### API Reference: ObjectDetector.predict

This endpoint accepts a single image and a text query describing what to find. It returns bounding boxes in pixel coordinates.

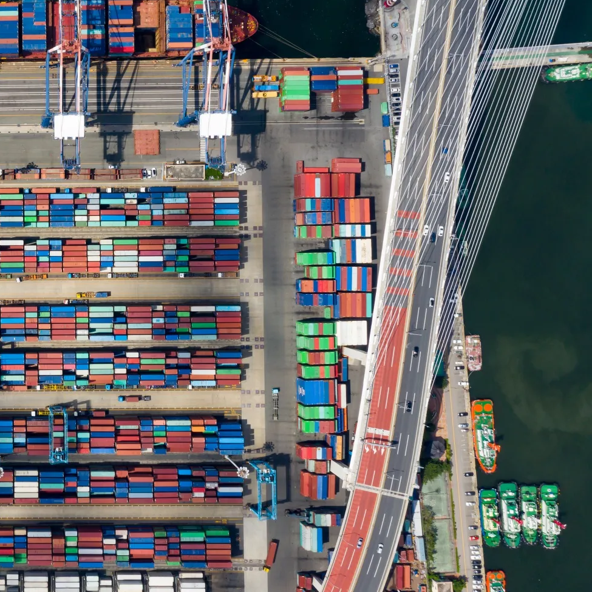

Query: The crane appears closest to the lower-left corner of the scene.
[40,397,70,465]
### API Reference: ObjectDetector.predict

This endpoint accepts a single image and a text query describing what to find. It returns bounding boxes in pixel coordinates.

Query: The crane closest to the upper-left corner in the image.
[36,0,93,171]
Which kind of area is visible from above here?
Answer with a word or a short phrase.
port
